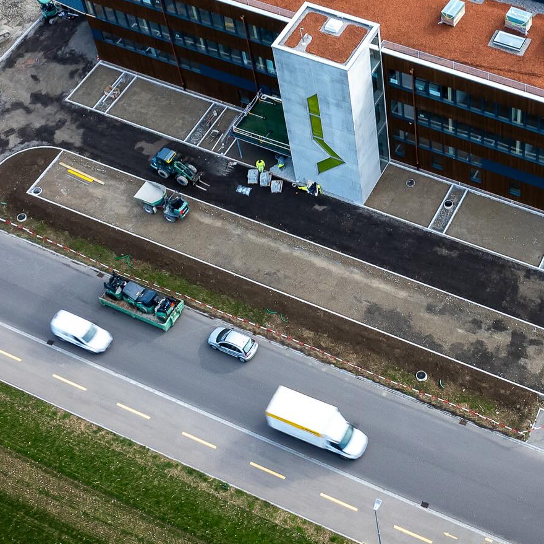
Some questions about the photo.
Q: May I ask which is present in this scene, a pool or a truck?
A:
truck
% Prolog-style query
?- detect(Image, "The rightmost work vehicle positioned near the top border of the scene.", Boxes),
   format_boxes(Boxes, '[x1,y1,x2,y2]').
[40,0,63,29]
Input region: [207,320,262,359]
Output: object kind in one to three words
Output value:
car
